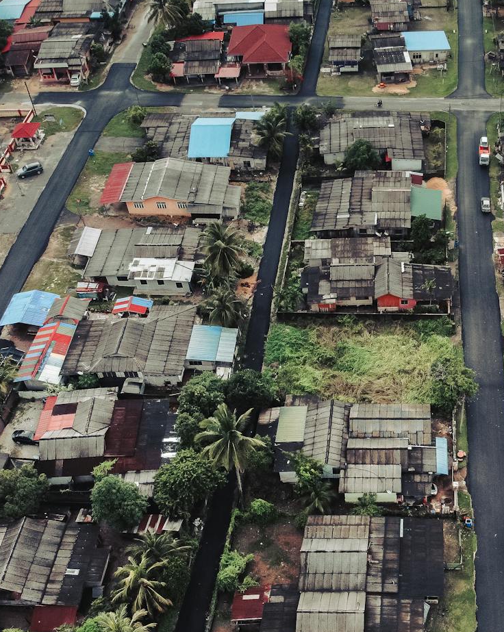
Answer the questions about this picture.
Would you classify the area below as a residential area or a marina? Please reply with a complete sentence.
It's a residential area.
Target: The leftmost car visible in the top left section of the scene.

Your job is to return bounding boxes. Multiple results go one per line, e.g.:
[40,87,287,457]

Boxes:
[16,157,43,175]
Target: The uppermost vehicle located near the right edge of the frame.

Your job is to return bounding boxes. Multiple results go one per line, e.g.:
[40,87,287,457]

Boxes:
[477,135,490,160]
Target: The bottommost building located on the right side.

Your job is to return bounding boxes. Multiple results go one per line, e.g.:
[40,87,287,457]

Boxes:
[231,515,444,632]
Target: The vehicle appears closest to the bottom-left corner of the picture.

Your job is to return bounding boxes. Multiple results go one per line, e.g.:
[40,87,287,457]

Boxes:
[7,427,41,445]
